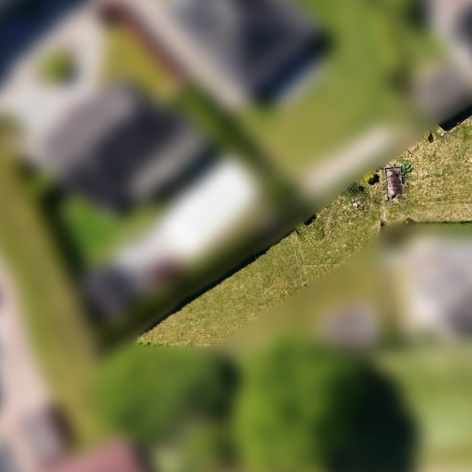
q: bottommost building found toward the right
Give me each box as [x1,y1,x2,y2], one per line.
[326,299,376,345]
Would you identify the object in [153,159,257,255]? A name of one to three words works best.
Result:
building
